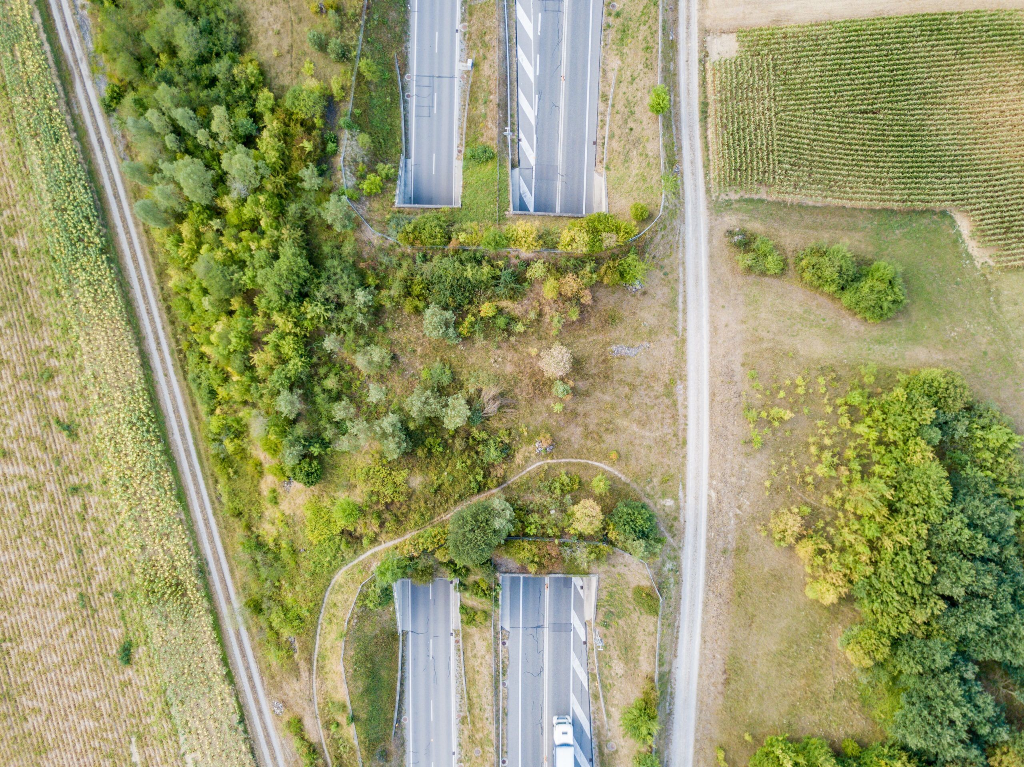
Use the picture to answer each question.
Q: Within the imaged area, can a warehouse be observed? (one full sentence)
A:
No, the frame has no warehouse in it.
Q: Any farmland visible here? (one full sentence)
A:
Yes, the picture does contain farmland.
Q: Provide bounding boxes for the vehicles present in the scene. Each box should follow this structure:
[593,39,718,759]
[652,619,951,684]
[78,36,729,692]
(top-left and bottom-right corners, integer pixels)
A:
[552,713,575,767]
